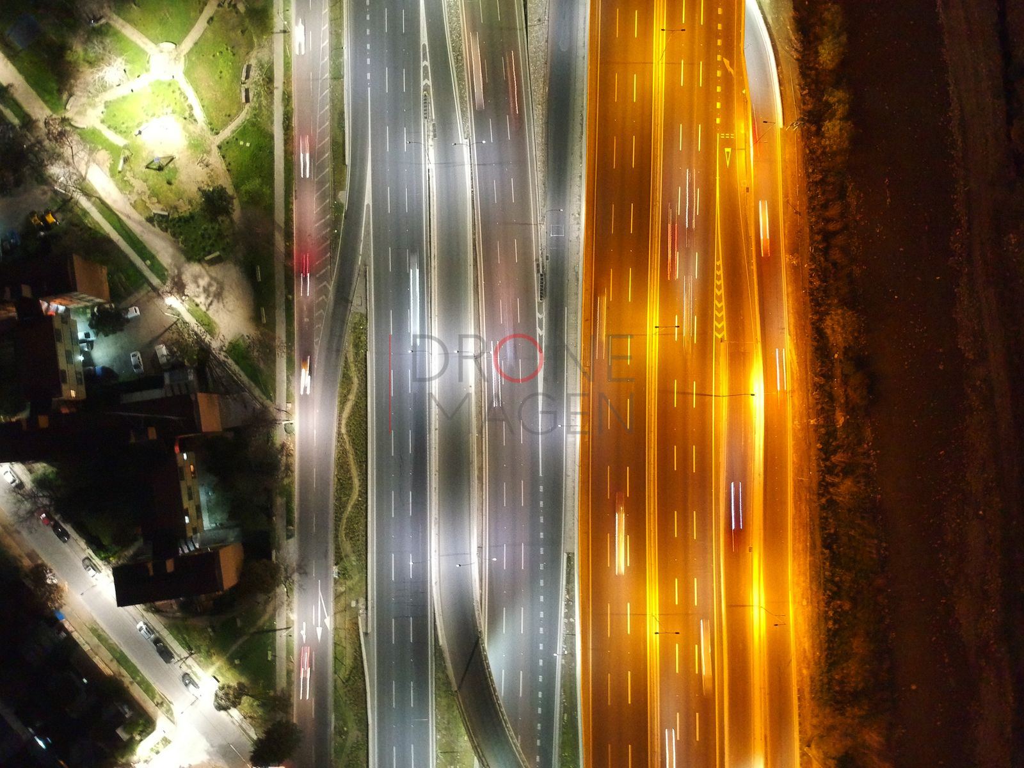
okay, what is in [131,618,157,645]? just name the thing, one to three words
truck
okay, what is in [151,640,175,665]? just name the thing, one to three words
car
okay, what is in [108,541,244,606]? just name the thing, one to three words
building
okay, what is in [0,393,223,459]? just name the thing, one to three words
building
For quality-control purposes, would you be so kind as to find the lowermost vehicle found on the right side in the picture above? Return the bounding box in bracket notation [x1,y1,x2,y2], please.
[665,738,677,765]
